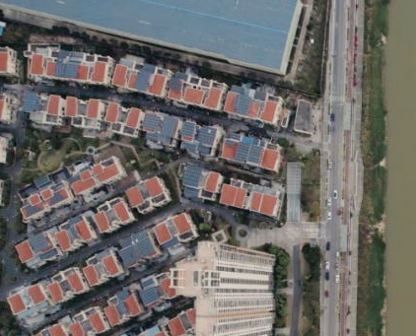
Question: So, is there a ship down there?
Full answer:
No, the photo shows no ship.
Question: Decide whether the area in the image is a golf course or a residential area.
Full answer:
What you see here is a residential area.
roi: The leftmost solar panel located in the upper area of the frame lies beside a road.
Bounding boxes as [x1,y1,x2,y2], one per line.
[22,91,40,111]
